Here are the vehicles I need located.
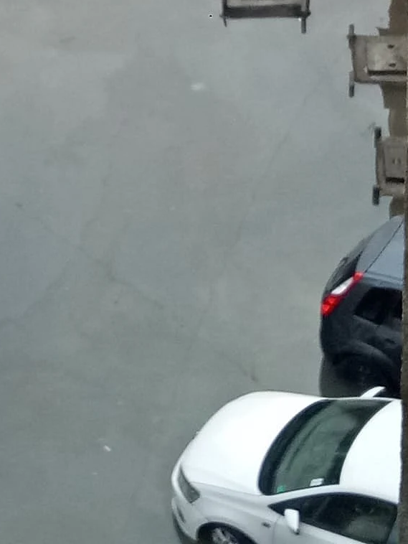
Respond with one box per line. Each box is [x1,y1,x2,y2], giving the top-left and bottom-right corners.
[324,221,404,398]
[168,388,400,544]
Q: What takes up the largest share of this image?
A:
water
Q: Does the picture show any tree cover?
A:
No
